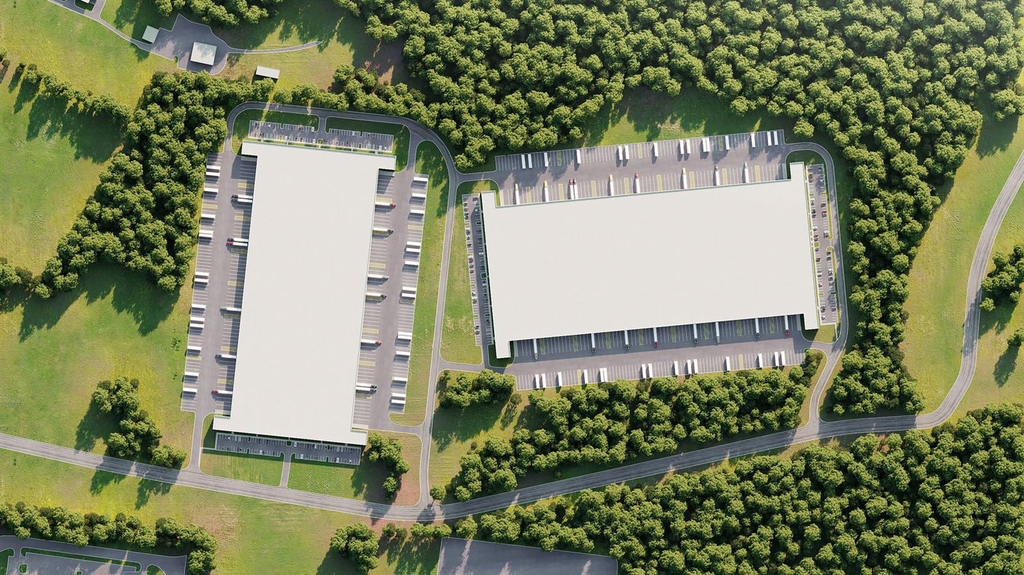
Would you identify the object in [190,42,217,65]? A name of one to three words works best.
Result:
barn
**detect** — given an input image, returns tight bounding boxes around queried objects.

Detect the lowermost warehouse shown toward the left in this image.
[213,140,397,445]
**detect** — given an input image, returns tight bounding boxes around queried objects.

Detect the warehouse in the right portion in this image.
[481,162,819,358]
